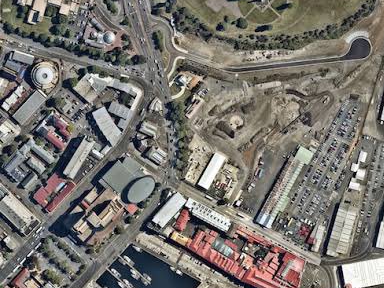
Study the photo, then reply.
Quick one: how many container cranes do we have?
0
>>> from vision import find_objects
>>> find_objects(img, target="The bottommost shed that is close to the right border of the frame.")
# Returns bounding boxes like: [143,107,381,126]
[342,257,384,288]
